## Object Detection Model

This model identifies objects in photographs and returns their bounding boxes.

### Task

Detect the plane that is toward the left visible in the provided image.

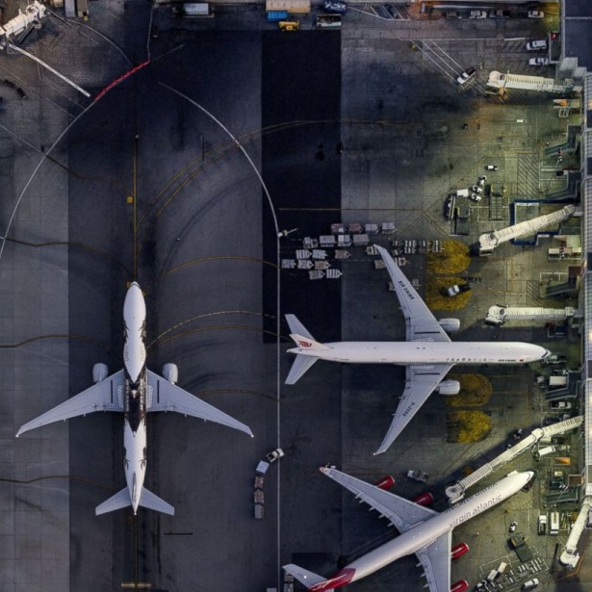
[16,284,253,516]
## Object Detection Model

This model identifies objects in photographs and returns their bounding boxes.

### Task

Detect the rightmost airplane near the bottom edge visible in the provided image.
[283,467,532,592]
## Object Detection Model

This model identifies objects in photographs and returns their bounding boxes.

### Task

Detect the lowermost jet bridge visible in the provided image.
[559,497,592,574]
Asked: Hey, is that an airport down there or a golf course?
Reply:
airport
